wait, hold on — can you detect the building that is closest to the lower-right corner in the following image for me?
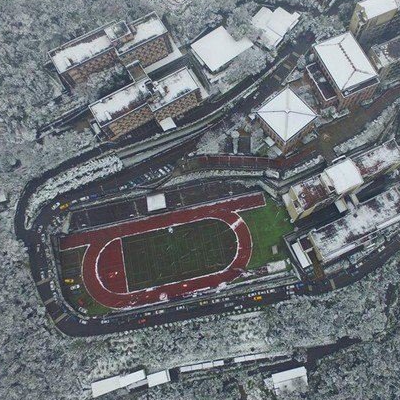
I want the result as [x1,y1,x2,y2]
[264,364,310,395]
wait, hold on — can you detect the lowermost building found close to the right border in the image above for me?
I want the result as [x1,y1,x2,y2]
[308,187,400,263]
